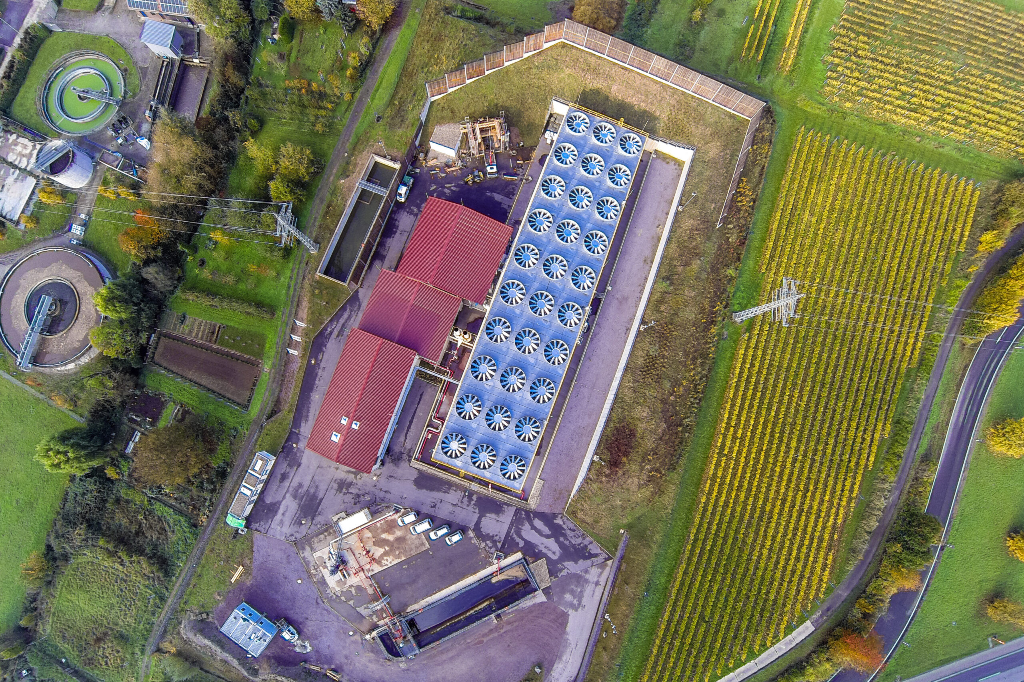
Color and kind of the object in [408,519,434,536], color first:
white car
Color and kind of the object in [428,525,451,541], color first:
white car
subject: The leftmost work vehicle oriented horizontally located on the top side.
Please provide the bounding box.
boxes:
[460,167,486,181]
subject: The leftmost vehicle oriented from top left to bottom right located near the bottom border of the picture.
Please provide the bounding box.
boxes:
[272,612,300,648]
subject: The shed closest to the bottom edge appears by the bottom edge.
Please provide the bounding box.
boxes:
[220,599,281,659]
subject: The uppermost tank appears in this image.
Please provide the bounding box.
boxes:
[39,54,127,137]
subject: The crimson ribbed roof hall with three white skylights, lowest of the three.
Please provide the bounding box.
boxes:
[302,326,419,475]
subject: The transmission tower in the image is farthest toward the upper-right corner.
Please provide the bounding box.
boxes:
[732,278,804,324]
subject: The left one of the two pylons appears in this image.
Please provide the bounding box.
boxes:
[274,208,322,257]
